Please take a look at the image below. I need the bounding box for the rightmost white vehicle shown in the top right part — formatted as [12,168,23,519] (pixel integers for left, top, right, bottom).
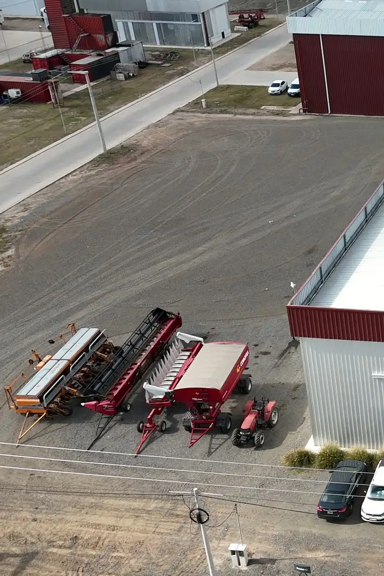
[287,79,300,95]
